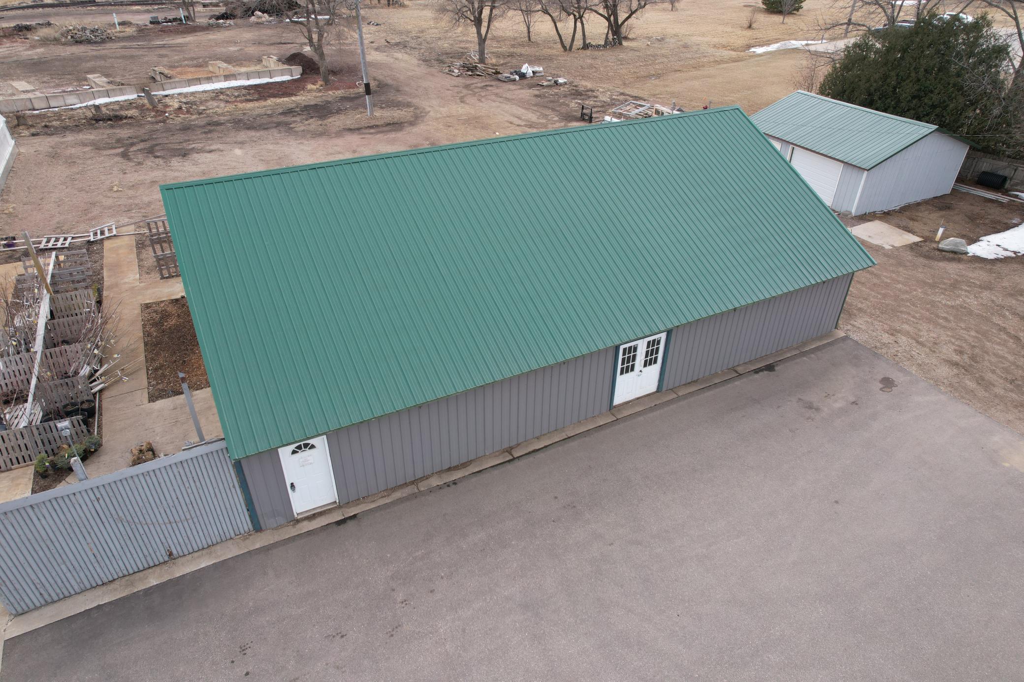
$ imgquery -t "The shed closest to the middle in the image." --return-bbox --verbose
[158,103,878,532]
